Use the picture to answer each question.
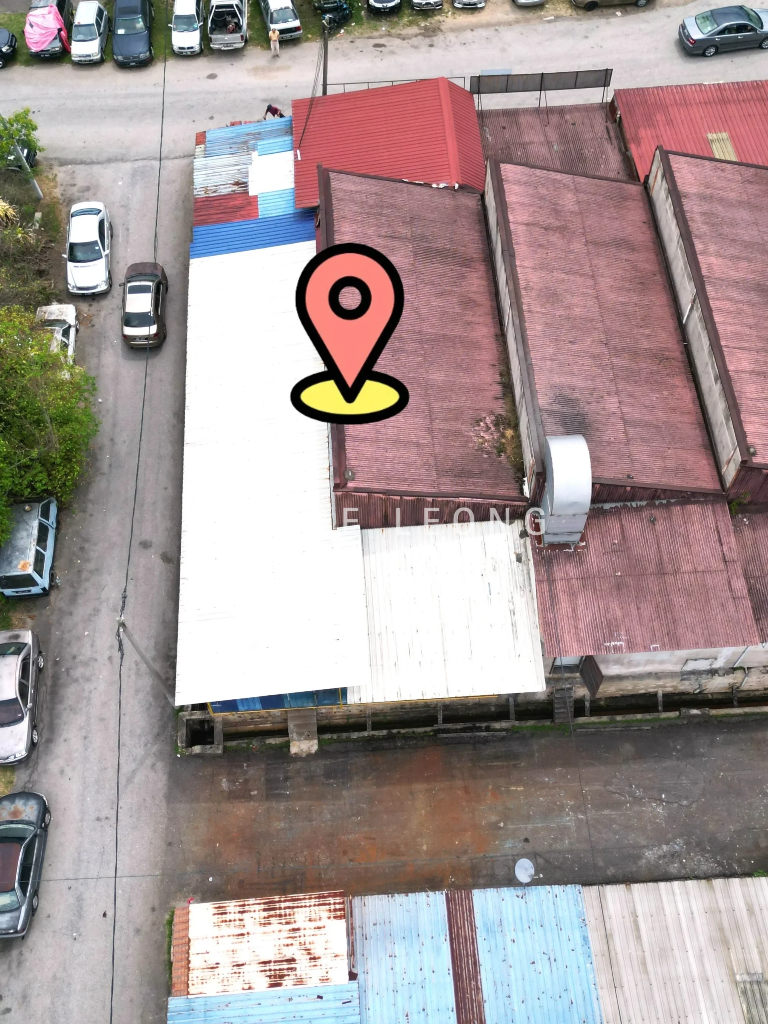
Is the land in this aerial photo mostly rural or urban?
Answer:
urban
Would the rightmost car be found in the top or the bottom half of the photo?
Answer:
top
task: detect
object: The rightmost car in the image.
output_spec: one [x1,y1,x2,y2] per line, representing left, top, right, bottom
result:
[678,5,768,58]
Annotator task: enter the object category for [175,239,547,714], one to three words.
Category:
shed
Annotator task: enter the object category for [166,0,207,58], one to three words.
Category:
car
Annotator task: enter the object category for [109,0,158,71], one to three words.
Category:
car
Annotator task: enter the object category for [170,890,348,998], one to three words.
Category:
shed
